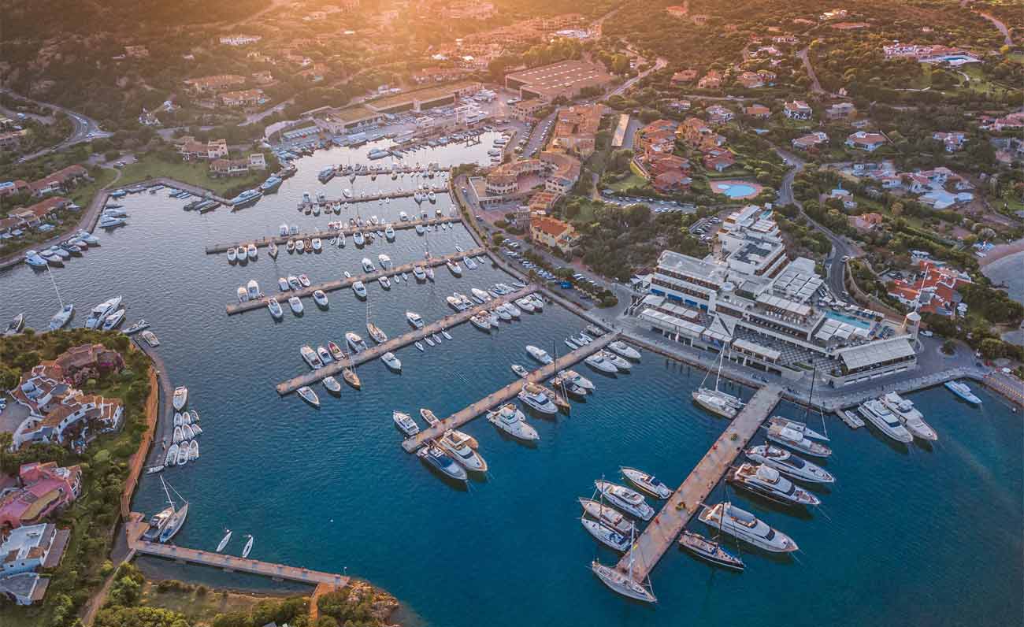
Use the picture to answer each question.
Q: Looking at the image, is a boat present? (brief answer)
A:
Yes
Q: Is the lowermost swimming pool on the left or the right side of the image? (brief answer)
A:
right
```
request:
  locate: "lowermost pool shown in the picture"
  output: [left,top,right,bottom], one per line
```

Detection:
[825,310,870,331]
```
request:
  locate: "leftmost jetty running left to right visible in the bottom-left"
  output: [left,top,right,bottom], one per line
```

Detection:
[139,542,342,589]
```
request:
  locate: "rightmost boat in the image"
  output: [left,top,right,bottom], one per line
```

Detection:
[941,381,981,405]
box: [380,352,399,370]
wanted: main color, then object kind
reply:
white boat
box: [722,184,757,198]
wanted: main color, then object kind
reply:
blue swimming pool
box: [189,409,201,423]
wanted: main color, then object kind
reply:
gray boat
